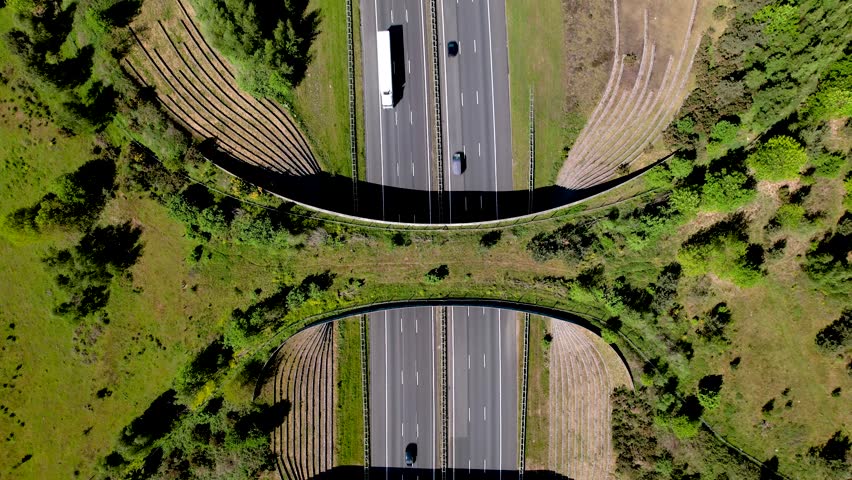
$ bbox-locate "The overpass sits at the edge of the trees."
[191,147,677,401]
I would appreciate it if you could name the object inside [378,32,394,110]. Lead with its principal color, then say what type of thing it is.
white vehicle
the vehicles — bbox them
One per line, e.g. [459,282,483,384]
[404,446,414,466]
[452,154,461,176]
[448,41,456,58]
[378,32,394,110]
